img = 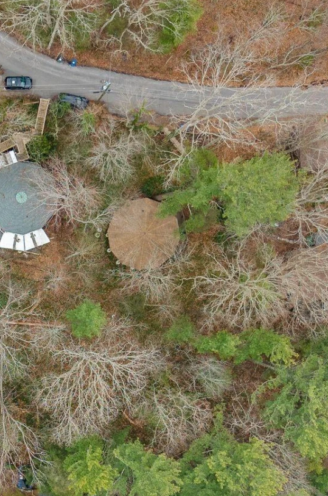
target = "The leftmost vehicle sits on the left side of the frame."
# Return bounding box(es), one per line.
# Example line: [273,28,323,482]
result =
[3,74,33,89]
